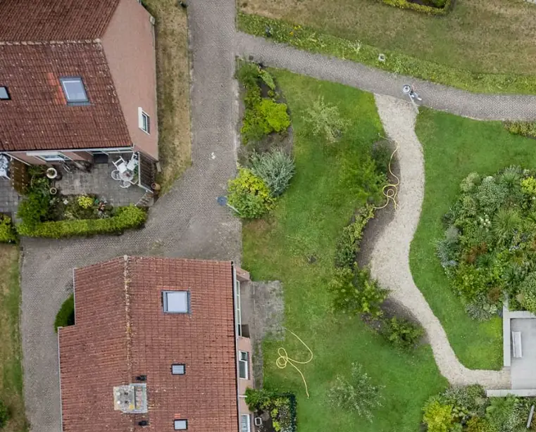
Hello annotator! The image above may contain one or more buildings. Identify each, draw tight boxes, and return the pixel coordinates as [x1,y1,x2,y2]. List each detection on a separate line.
[0,0,160,162]
[56,254,258,432]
